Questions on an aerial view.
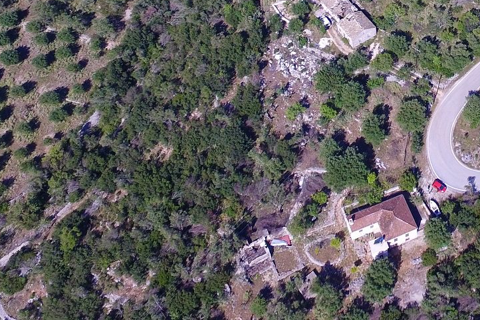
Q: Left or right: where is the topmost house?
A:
right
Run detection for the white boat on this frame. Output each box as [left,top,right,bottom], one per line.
[430,199,443,218]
